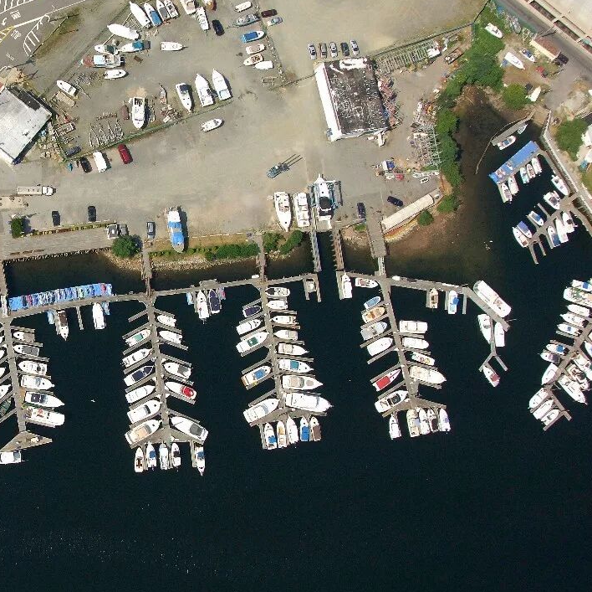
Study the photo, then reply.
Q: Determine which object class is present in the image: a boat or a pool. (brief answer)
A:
boat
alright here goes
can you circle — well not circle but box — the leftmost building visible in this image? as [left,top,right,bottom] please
[0,87,51,163]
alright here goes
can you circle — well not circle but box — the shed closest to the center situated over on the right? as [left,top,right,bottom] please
[381,196,435,234]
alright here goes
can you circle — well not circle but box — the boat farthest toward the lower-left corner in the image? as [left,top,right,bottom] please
[0,451,24,464]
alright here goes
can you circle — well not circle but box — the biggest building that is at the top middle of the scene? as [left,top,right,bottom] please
[313,59,389,144]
